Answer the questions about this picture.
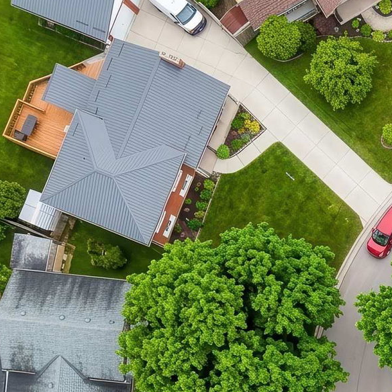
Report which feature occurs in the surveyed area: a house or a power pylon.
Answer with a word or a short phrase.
house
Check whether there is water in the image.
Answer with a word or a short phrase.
No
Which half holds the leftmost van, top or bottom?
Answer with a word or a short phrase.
top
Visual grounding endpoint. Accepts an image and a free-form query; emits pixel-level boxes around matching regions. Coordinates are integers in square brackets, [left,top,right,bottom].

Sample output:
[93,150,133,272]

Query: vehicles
[368,204,392,259]
[140,0,210,40]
